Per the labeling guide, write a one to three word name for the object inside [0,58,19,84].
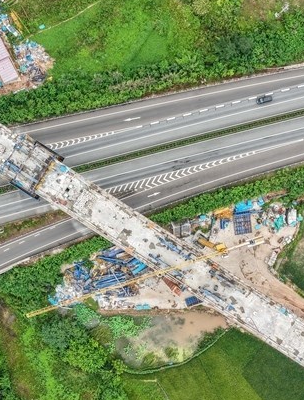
shed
